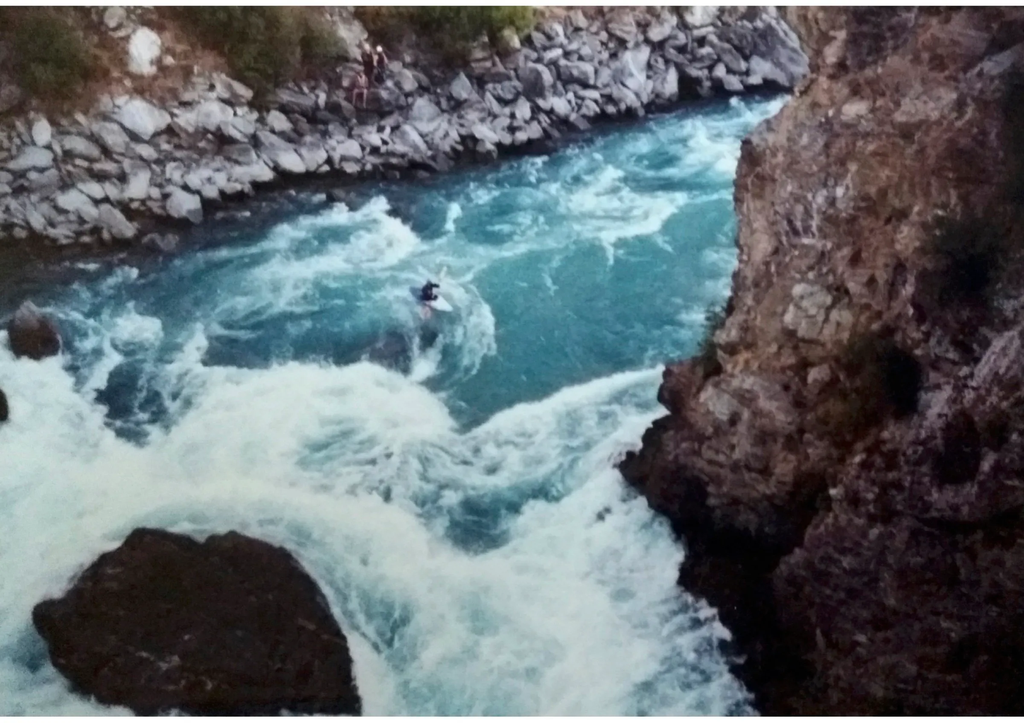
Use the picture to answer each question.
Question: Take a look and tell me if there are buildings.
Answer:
No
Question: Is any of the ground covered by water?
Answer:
Yes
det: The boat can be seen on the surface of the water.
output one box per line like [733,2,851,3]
[412,288,455,310]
